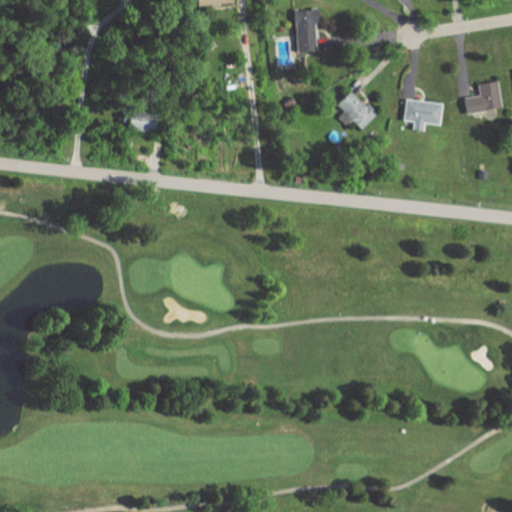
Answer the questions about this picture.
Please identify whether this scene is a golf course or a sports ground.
golf course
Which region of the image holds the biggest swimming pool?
top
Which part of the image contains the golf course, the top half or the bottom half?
bottom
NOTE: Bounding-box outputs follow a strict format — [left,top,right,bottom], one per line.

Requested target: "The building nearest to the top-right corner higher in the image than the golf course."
[465,81,504,114]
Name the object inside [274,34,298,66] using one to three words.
swimming pool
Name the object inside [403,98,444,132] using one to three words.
house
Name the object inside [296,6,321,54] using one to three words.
house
